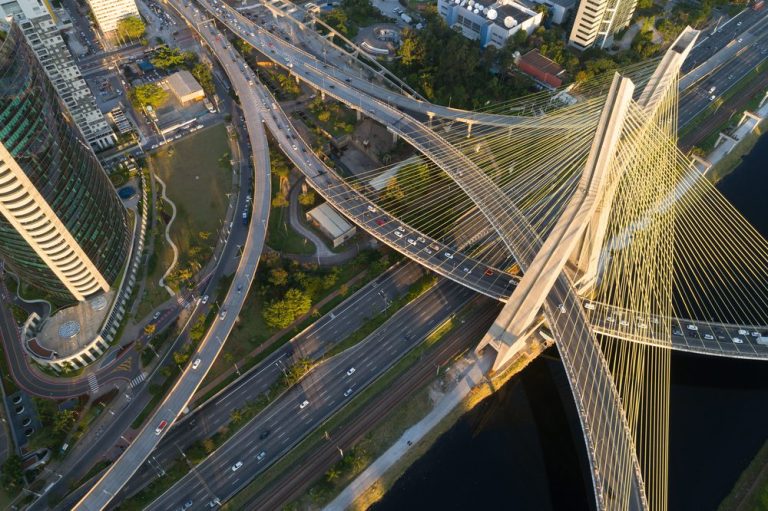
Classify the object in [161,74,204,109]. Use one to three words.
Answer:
building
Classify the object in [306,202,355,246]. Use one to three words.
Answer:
building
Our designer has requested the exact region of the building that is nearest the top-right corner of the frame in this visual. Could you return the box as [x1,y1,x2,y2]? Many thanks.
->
[570,0,628,53]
